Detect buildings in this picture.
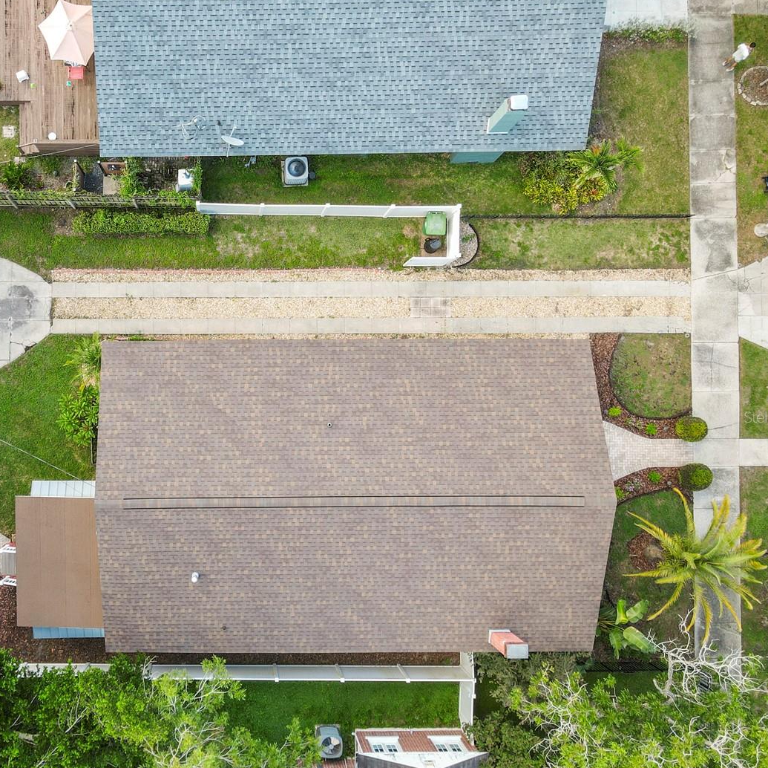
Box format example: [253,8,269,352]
[15,333,618,660]
[305,725,495,768]
[90,0,609,164]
